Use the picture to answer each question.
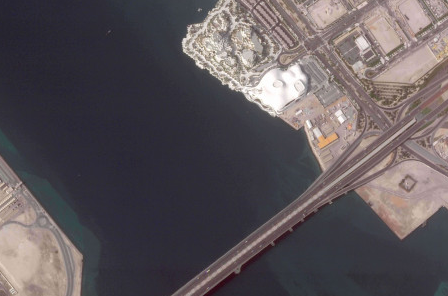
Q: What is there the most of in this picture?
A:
water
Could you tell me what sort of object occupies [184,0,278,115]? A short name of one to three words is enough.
building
